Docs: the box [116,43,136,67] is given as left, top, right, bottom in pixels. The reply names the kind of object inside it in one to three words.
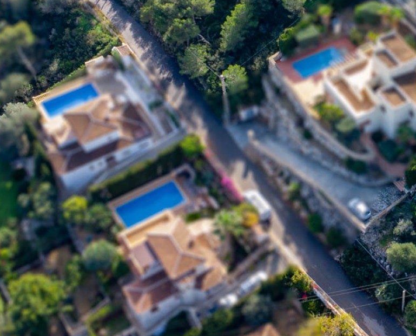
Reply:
shed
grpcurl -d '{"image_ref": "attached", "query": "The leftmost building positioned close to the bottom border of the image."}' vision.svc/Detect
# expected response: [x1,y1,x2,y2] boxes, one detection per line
[119,211,232,331]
